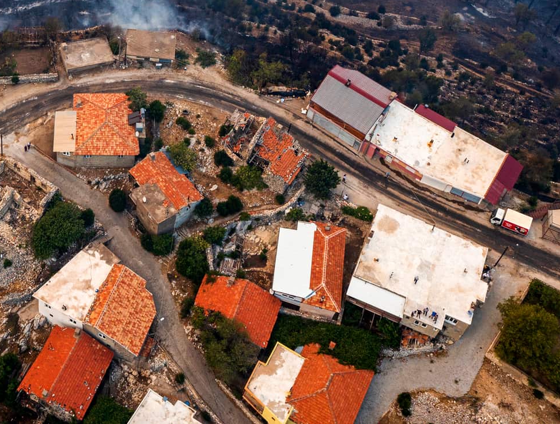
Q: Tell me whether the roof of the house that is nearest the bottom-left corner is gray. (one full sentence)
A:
No, the roof of the house that is nearest the bottom-left corner is actually red.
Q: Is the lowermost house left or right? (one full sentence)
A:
The lowermost house sits on the left side.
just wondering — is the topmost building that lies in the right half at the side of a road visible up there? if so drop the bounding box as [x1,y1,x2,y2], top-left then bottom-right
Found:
[307,64,398,155]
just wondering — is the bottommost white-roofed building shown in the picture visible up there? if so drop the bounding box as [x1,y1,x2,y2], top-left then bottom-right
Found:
[129,388,203,424]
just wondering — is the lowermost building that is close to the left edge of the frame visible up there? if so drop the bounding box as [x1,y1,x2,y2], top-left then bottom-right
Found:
[17,325,113,424]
